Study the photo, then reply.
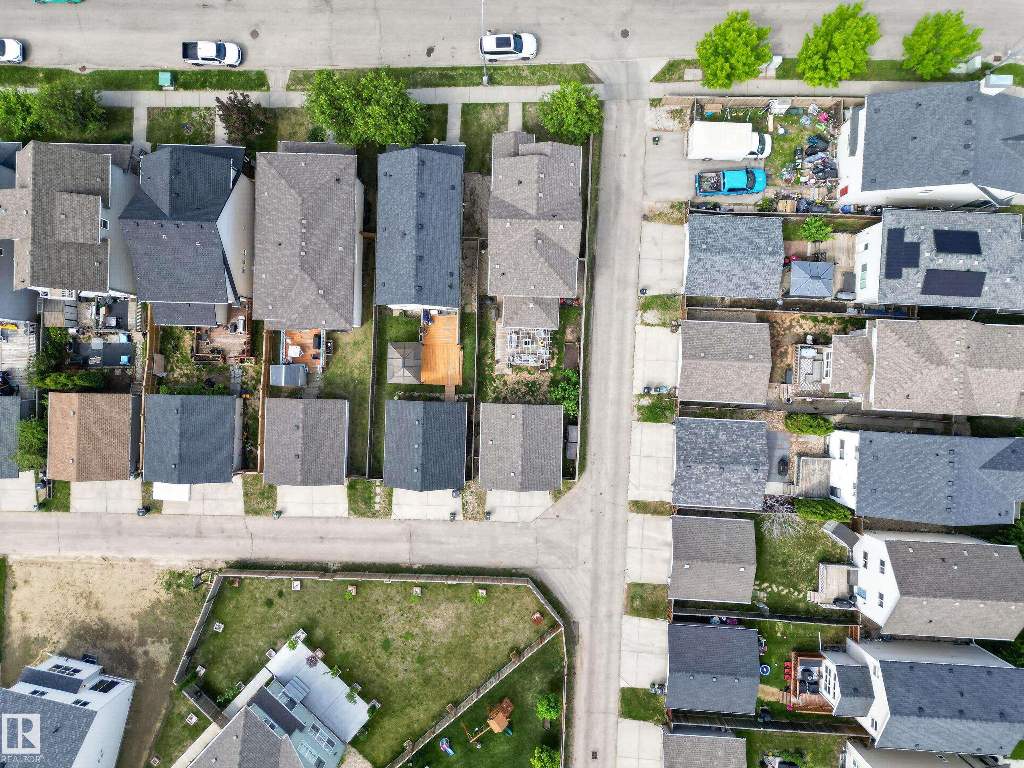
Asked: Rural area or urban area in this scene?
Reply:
urban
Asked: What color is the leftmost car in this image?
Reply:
white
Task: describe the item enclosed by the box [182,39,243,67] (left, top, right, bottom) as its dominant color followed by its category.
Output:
white truck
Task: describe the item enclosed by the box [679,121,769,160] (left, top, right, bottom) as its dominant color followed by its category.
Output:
white truck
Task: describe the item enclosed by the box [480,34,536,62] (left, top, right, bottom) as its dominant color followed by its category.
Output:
white car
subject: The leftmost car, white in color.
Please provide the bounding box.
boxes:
[0,37,25,64]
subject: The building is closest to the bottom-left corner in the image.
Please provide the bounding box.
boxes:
[0,654,136,768]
